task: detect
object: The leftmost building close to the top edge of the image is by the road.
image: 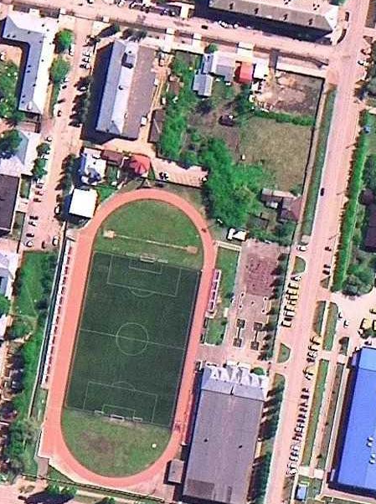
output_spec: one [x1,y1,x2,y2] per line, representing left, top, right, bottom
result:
[1,14,62,118]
